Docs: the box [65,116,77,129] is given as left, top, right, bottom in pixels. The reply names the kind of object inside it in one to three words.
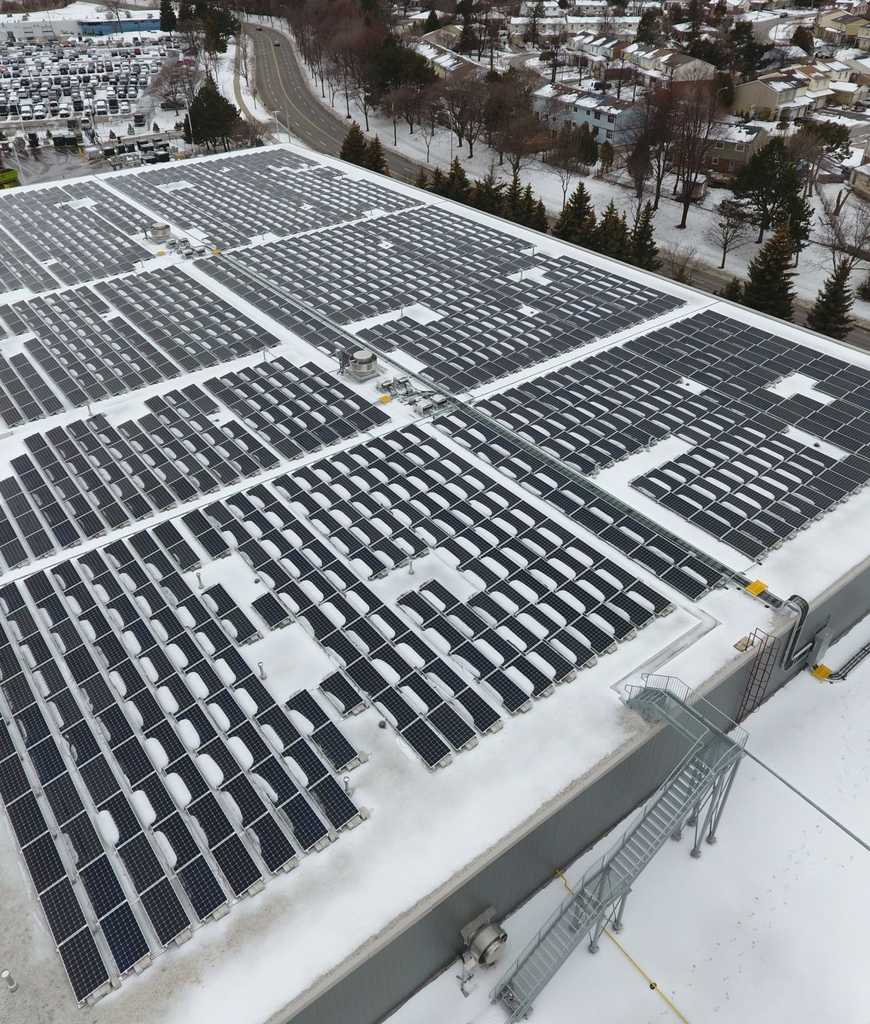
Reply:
vehicle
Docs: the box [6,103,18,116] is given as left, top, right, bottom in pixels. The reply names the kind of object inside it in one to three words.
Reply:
vehicle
